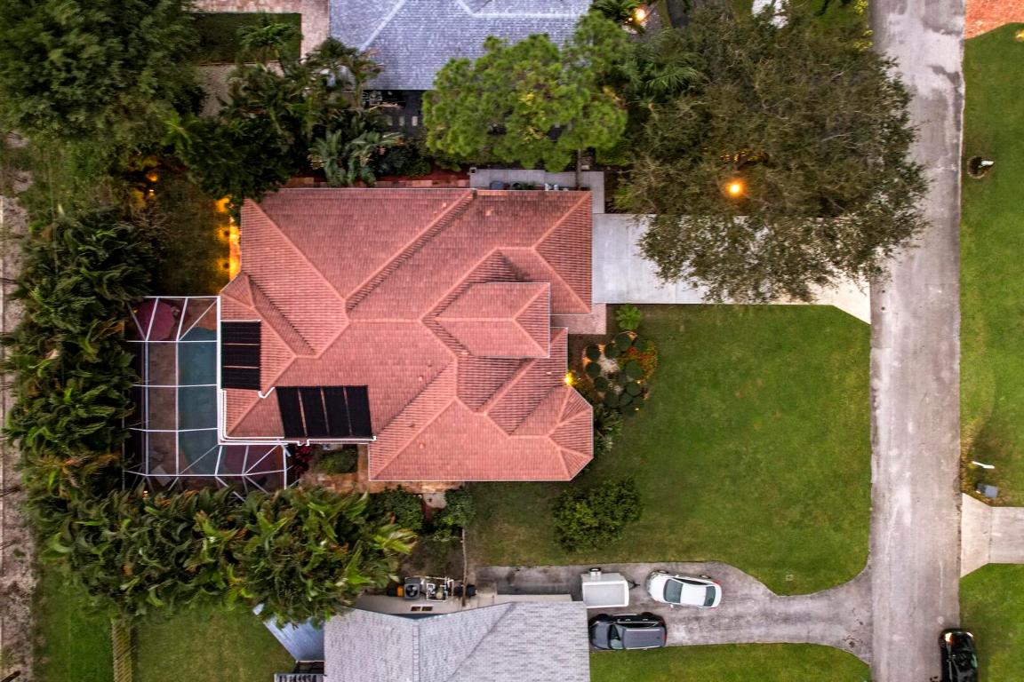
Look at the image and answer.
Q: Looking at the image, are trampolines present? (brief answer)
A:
No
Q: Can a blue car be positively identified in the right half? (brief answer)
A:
No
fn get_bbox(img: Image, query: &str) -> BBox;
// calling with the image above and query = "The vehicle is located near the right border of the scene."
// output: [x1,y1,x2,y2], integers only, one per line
[939,629,980,682]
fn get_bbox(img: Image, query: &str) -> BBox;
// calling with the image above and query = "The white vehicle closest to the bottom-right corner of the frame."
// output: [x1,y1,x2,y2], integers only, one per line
[646,571,723,609]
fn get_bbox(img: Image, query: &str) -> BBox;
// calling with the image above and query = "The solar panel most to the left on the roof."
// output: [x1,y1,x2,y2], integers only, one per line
[221,324,260,388]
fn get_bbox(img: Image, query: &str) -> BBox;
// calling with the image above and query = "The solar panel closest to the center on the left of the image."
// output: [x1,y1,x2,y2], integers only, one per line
[276,385,371,439]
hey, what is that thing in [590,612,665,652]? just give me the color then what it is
gray car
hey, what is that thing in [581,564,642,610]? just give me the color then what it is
white trailer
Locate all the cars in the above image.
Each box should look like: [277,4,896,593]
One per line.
[646,571,723,609]
[590,612,665,652]
[939,629,980,682]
